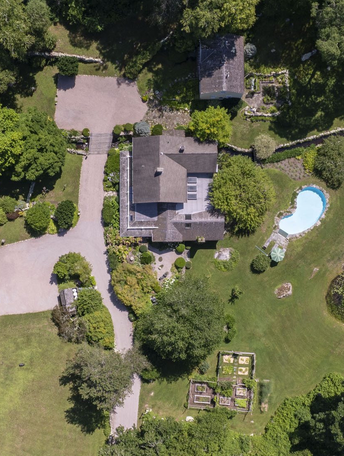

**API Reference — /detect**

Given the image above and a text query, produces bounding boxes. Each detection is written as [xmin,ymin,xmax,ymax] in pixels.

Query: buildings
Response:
[119,131,225,241]
[195,29,244,98]
[58,290,77,314]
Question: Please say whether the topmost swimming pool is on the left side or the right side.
right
